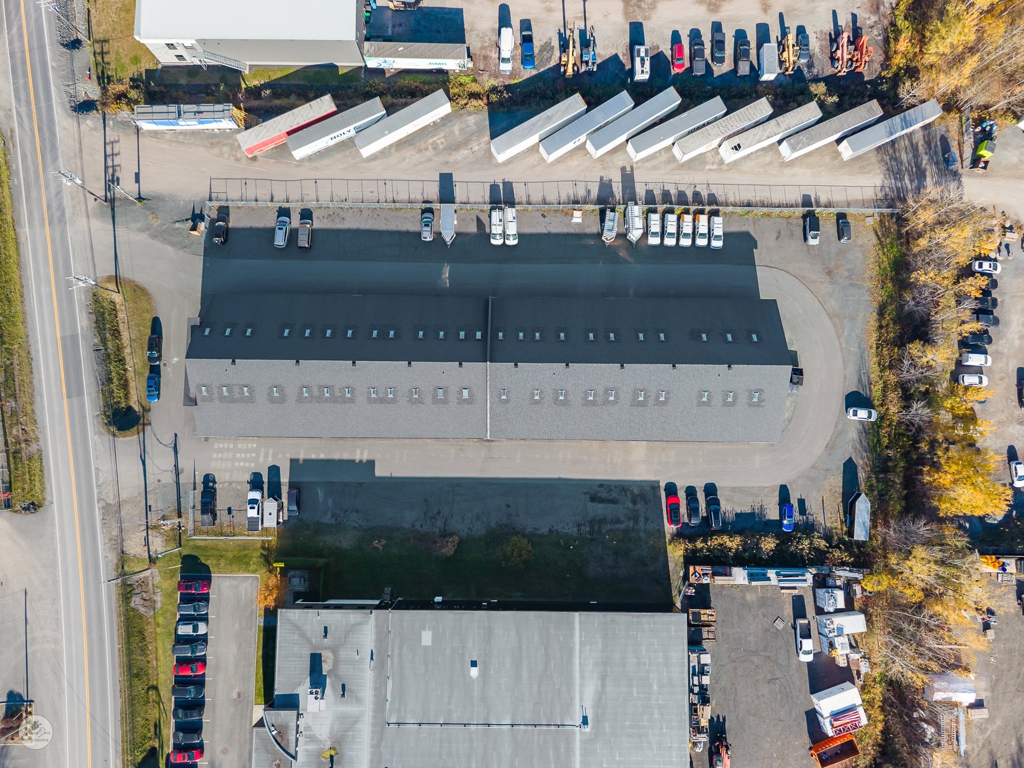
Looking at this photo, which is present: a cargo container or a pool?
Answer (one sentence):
The image shows a cargo container.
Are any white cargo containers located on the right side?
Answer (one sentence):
Yes, I can see a white cargo container on the right side.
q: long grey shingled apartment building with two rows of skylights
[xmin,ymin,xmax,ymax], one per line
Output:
[183,295,794,443]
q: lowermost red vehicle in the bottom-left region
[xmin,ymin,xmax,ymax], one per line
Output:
[170,746,203,765]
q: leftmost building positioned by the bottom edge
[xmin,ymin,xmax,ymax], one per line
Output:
[247,588,692,768]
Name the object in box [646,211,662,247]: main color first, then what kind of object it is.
white vehicle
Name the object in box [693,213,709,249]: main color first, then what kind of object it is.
white vehicle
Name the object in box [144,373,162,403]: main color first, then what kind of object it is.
blue car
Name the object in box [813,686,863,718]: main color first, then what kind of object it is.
white shipping container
